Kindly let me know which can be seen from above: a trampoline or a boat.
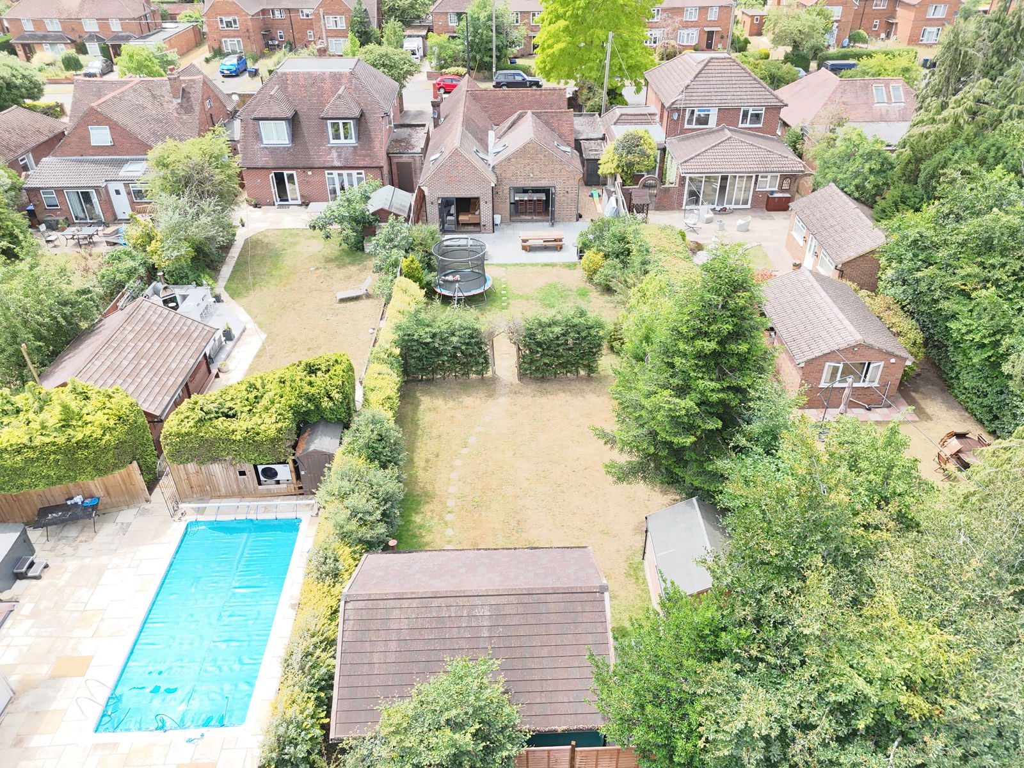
trampoline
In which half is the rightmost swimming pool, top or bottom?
bottom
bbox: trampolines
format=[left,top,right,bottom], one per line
[434,241,493,311]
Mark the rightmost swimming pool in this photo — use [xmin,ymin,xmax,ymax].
[75,510,311,740]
